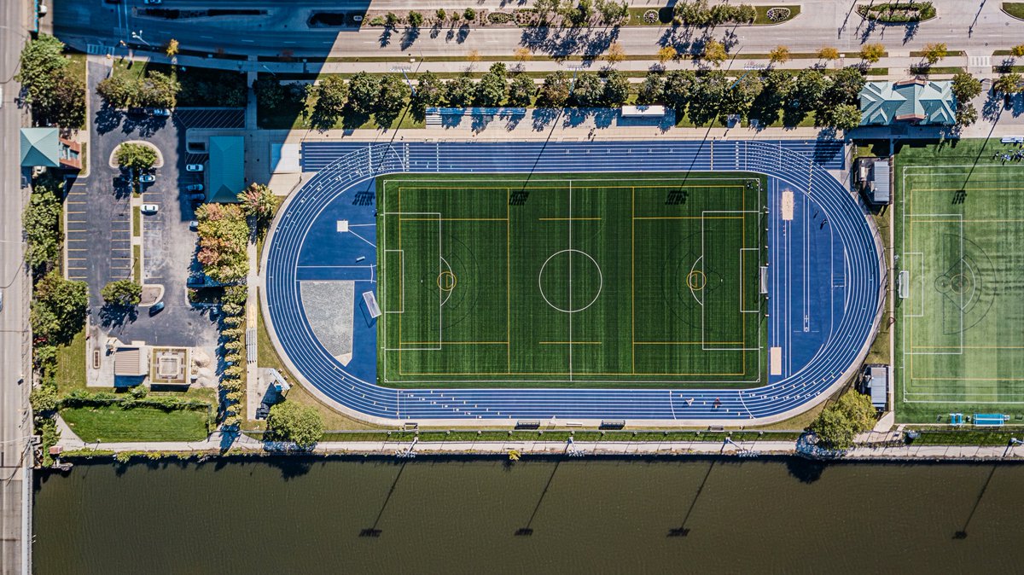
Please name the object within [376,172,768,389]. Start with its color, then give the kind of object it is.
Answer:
green sports field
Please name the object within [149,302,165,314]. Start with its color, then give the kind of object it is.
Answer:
blue vehicle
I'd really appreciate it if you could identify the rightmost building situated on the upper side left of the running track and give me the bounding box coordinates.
[209,136,246,202]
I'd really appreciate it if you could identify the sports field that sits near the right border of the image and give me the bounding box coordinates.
[894,138,1024,424]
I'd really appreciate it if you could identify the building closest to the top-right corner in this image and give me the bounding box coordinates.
[856,78,959,125]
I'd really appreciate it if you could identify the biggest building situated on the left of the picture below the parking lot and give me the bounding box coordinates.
[151,345,197,385]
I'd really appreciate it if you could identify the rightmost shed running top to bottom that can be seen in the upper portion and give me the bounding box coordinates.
[870,161,890,206]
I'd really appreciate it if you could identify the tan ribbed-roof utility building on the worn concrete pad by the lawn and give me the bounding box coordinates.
[115,344,150,374]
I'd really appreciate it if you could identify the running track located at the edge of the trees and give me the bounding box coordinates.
[266,140,881,421]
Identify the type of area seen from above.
sports ground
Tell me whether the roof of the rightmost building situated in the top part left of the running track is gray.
No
